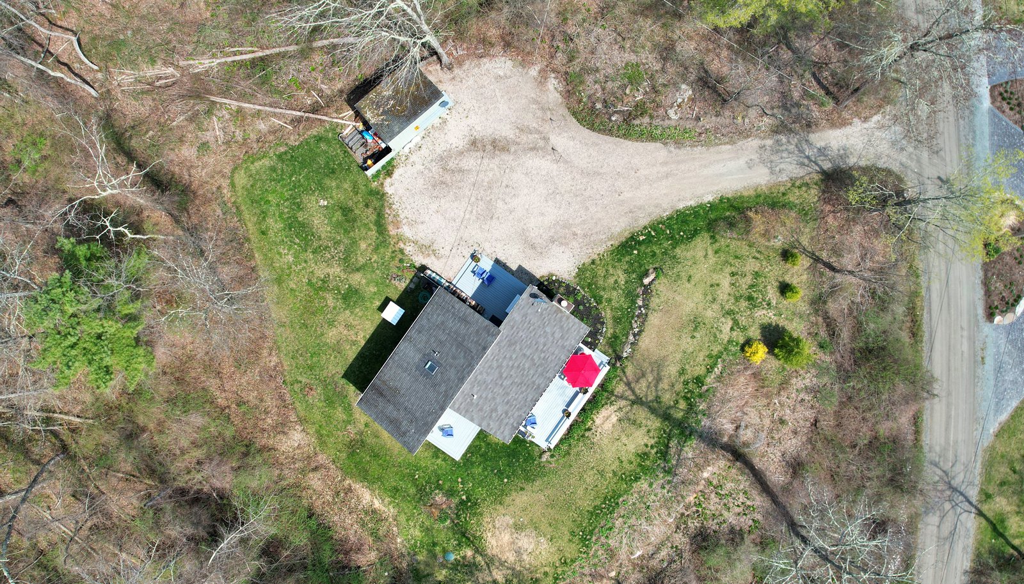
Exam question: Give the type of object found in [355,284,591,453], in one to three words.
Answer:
house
